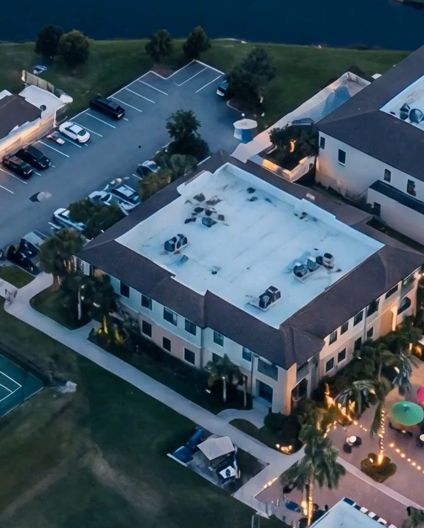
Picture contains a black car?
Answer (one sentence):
Yes, you can see a black car in this photo.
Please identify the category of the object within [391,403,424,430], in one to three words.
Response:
umbrella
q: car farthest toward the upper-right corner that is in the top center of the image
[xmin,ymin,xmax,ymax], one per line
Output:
[215,79,230,95]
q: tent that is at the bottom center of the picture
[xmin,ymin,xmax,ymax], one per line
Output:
[197,431,243,462]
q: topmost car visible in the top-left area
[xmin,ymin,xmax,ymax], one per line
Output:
[94,96,121,117]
